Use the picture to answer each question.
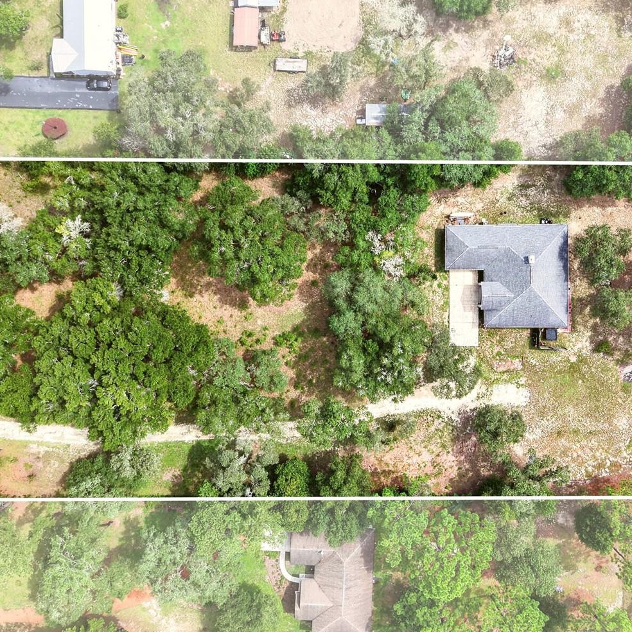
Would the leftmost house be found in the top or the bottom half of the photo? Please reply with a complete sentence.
It is in the top half that the leftmost house appears.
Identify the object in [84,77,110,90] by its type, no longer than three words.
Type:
vehicle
